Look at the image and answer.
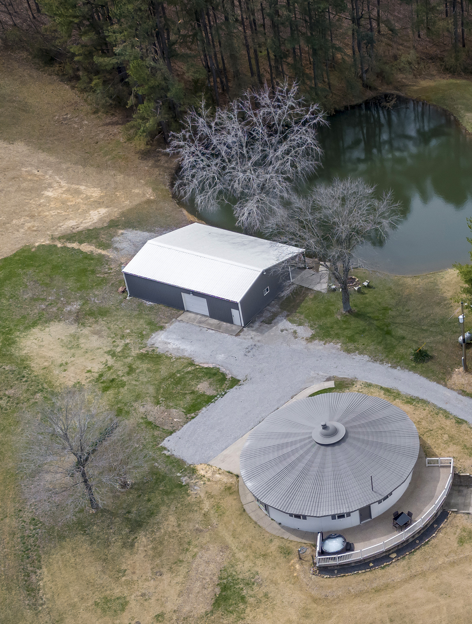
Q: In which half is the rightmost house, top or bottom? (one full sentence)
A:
The bottom half of the photo is where the rightmost house is.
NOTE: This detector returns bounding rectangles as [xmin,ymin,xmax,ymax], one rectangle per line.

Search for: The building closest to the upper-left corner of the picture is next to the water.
[119,224,306,326]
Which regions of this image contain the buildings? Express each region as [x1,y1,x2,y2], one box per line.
[119,224,306,326]
[239,390,418,531]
